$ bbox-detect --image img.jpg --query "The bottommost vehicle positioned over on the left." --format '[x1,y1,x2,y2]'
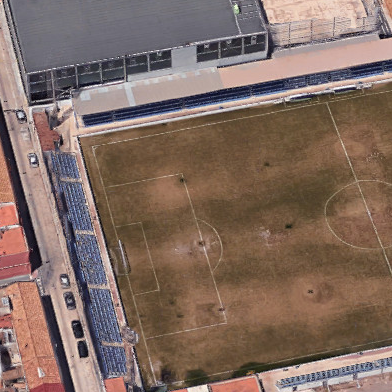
[76,340,90,359]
